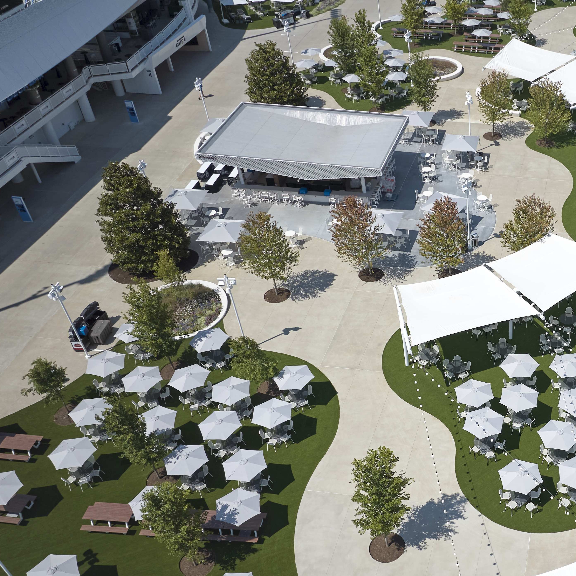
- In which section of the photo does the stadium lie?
top left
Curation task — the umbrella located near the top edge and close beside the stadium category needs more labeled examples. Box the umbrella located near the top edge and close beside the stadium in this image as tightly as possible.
[220,0,247,22]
